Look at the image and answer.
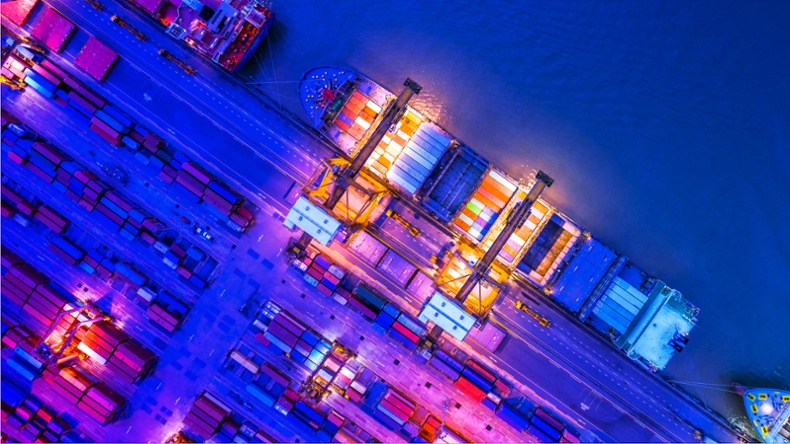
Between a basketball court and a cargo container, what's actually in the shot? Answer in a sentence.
I can see a cargo container in this picture.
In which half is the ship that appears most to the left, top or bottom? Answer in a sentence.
Seen from above, the ship that appears most to the left lies in the top half of the view.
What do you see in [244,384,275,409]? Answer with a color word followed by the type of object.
blue shipping container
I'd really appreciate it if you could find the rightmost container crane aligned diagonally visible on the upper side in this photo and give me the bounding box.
[280,73,427,262]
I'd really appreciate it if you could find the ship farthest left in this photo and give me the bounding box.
[134,0,272,69]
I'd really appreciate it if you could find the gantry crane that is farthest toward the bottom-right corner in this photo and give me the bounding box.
[413,166,557,354]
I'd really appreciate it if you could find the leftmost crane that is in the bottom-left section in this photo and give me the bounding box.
[24,303,110,372]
